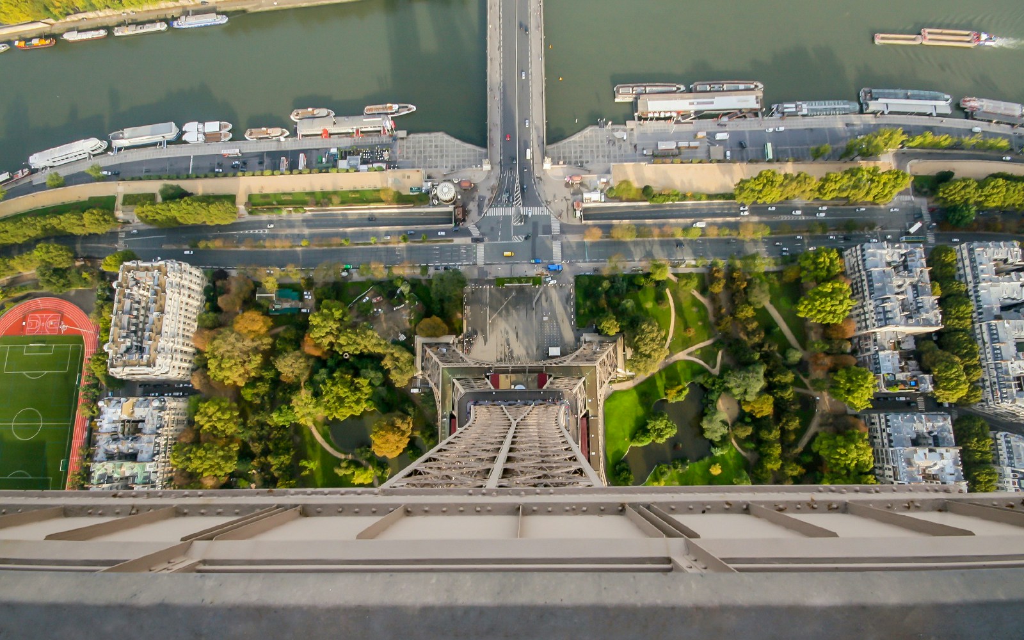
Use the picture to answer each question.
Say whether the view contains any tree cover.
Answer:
Yes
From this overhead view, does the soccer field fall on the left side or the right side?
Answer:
left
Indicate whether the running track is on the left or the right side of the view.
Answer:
left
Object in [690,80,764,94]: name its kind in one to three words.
boat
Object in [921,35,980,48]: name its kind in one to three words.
ship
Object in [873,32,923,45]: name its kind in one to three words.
ship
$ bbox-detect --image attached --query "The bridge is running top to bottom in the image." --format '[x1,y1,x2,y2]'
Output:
[487,0,547,178]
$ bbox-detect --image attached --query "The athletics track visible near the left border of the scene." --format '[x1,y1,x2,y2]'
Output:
[0,301,104,492]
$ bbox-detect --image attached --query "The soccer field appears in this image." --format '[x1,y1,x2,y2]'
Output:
[0,338,91,492]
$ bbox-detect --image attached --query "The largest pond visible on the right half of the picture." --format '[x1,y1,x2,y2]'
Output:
[622,382,711,488]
